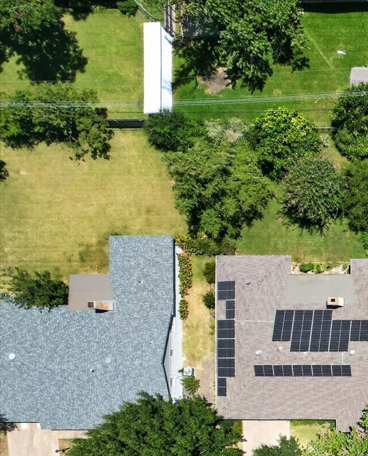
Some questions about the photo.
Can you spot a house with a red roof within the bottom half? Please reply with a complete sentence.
No, no house with a red roof is visible within the bottom half.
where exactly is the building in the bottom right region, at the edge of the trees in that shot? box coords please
[216,255,368,431]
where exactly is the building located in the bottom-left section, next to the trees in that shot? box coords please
[0,236,175,431]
